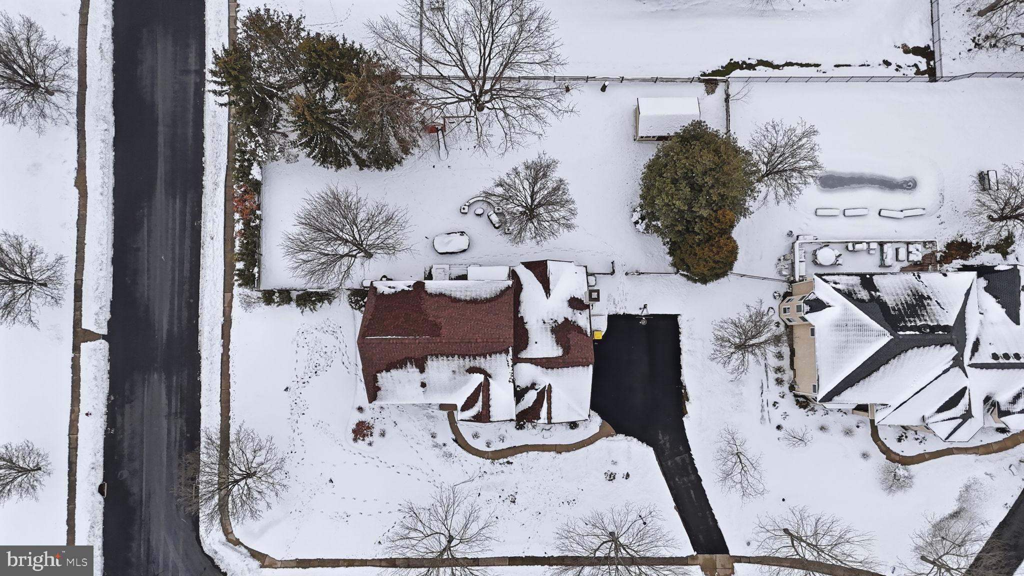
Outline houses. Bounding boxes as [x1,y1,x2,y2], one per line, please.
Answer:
[780,268,1024,444]
[357,261,600,425]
